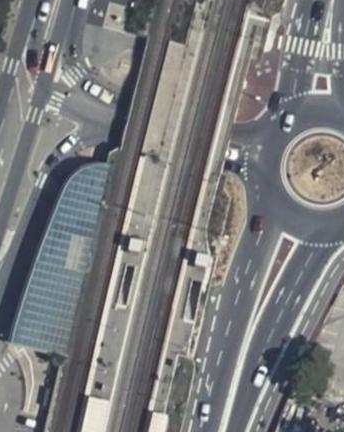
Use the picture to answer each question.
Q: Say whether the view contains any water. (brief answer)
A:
No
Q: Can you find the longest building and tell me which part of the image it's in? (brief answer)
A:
left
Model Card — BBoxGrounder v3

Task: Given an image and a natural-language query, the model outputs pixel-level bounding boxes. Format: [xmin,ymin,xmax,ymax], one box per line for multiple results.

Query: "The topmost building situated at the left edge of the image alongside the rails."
[10,160,108,354]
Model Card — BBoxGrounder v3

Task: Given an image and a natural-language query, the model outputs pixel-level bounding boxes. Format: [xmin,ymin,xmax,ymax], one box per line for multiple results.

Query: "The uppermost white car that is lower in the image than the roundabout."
[254,366,269,388]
